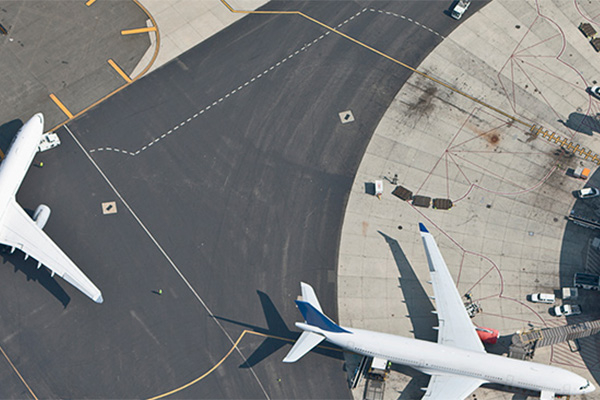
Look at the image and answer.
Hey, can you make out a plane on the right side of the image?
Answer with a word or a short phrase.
Yes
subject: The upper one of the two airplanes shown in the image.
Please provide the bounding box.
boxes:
[0,114,103,303]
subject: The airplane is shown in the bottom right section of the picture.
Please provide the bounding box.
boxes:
[284,221,595,400]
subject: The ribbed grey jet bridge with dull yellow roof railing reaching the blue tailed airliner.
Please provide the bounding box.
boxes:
[506,319,600,361]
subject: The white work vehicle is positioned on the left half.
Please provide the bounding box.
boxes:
[39,134,64,153]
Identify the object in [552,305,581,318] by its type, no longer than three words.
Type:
vehicle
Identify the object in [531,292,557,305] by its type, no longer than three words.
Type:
vehicle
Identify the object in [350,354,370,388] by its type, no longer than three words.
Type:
work vehicle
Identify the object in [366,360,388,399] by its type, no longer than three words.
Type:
work vehicle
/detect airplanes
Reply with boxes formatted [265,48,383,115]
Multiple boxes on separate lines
[284,221,595,400]
[0,114,103,303]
